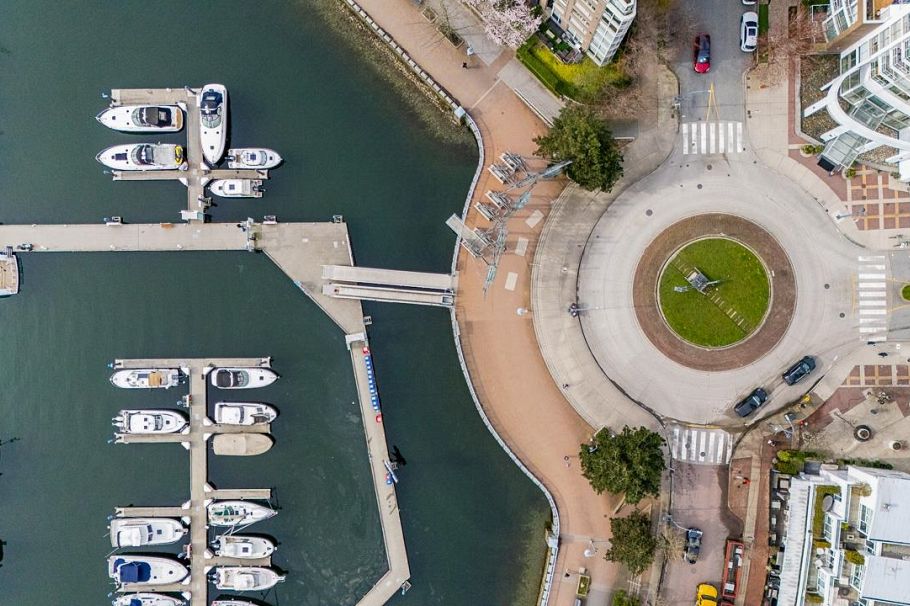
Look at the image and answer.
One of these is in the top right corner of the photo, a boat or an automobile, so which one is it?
automobile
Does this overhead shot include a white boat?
Yes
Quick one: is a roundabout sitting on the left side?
No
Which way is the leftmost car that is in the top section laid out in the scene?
up and down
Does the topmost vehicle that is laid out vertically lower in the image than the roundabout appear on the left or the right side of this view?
right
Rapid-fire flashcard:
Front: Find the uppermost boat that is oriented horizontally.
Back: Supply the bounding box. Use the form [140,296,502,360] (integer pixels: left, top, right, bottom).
[93,104,188,134]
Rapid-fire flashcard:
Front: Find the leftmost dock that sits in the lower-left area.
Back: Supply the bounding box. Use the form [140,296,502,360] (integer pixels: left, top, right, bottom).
[108,358,275,606]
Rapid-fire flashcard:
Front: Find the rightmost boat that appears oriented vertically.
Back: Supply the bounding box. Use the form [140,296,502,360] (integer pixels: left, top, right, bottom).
[199,83,230,164]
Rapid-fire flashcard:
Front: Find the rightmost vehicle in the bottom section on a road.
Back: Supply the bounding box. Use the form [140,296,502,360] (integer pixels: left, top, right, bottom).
[778,355,817,387]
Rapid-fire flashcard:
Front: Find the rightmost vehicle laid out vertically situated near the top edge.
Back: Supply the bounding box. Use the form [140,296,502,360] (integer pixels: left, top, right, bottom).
[738,12,758,53]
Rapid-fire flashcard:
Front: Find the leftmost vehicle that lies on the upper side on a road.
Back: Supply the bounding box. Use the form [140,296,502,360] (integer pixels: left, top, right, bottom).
[693,33,713,75]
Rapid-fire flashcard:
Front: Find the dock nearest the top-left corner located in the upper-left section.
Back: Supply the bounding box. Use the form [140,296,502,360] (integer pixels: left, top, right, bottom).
[103,86,269,224]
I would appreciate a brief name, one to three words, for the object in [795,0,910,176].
building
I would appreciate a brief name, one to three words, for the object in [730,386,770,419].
truck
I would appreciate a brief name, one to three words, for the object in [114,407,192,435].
boat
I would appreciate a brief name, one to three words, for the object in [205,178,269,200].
boat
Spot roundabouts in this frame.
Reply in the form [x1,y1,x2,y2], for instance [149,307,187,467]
[632,211,798,372]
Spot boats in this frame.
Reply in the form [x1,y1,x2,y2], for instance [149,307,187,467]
[113,590,182,606]
[172,146,179,167]
[114,407,192,435]
[215,400,277,427]
[212,366,278,390]
[94,142,188,172]
[199,83,230,164]
[209,498,279,531]
[106,551,191,586]
[211,432,274,457]
[253,414,274,426]
[211,564,286,594]
[210,533,278,562]
[92,515,192,562]
[106,367,185,389]
[93,104,188,134]
[222,147,283,171]
[0,243,25,295]
[205,178,269,200]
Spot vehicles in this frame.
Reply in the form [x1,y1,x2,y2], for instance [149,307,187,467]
[730,386,770,419]
[693,33,713,75]
[682,525,703,565]
[697,584,717,606]
[738,12,758,53]
[718,538,746,606]
[739,0,756,5]
[778,355,817,387]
